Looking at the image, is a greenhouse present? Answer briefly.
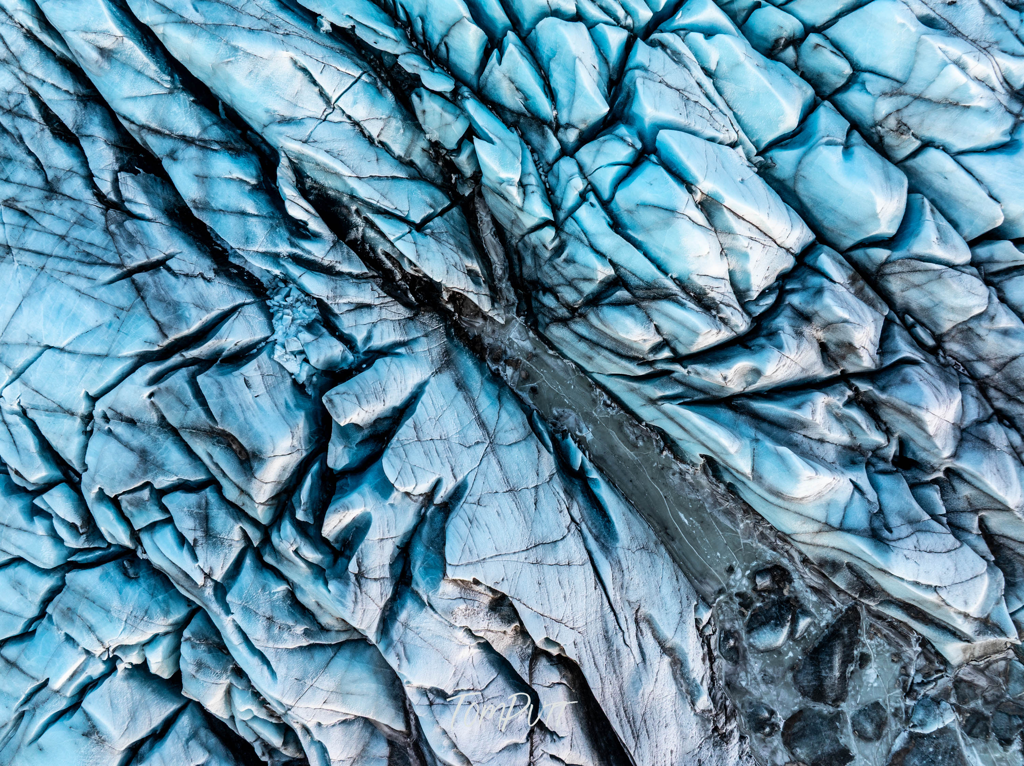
No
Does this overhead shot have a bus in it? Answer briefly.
No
